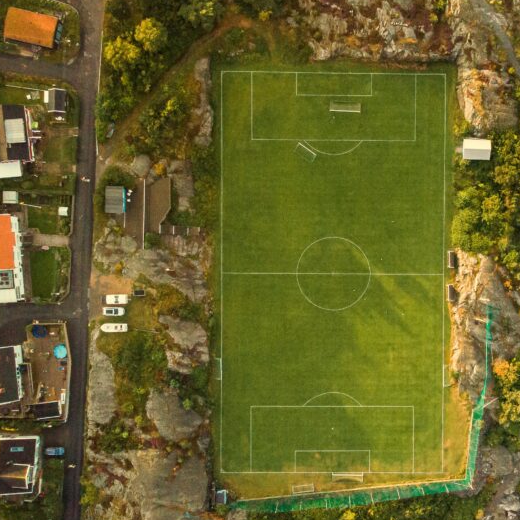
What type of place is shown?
sports ground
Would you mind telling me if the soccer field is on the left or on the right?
right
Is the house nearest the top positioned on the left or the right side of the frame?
left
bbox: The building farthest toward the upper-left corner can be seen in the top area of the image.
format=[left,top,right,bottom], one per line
[2,7,66,49]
